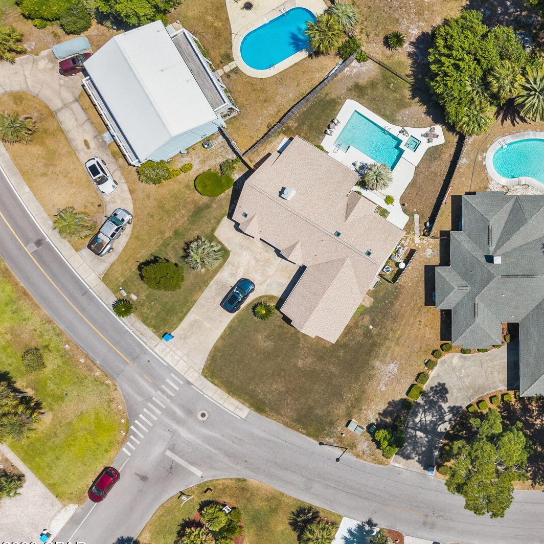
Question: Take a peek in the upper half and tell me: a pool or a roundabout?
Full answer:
You can see a pool in the upper half.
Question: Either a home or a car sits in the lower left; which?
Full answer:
Looking in the lower left, you will find a car.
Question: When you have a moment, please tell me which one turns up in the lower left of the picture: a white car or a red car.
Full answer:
You can see a red car in the lower left of the picture.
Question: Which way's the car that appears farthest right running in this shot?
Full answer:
The car that appears farthest right has been laid out at an angle relative to the frame.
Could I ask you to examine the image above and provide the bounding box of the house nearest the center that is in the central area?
[232,135,406,344]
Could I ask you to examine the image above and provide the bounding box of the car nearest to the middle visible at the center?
[220,277,256,315]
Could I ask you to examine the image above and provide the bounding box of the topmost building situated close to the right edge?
[435,191,544,397]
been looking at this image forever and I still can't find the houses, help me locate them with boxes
[78,19,238,167]
[435,191,544,397]
[232,135,406,344]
